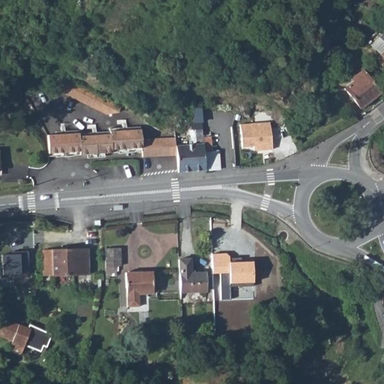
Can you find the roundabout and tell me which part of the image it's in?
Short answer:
right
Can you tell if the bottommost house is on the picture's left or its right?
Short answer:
left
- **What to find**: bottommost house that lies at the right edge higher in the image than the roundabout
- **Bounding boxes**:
[340,70,382,110]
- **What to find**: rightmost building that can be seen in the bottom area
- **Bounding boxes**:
[211,252,256,301]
